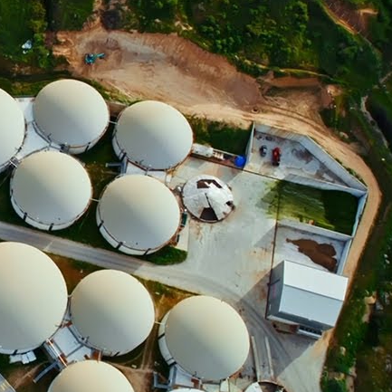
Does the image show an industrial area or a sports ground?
industrial area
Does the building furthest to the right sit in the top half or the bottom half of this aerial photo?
bottom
